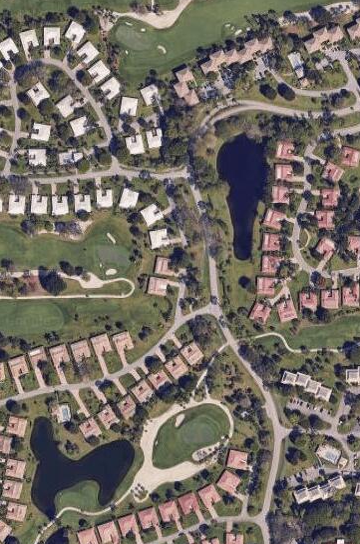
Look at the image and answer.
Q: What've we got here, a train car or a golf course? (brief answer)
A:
golf course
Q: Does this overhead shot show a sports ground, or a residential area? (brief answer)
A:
residential area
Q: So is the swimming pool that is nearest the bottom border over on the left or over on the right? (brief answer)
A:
right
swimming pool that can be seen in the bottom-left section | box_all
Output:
[57,404,70,422]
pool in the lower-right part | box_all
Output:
[317,444,341,464]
